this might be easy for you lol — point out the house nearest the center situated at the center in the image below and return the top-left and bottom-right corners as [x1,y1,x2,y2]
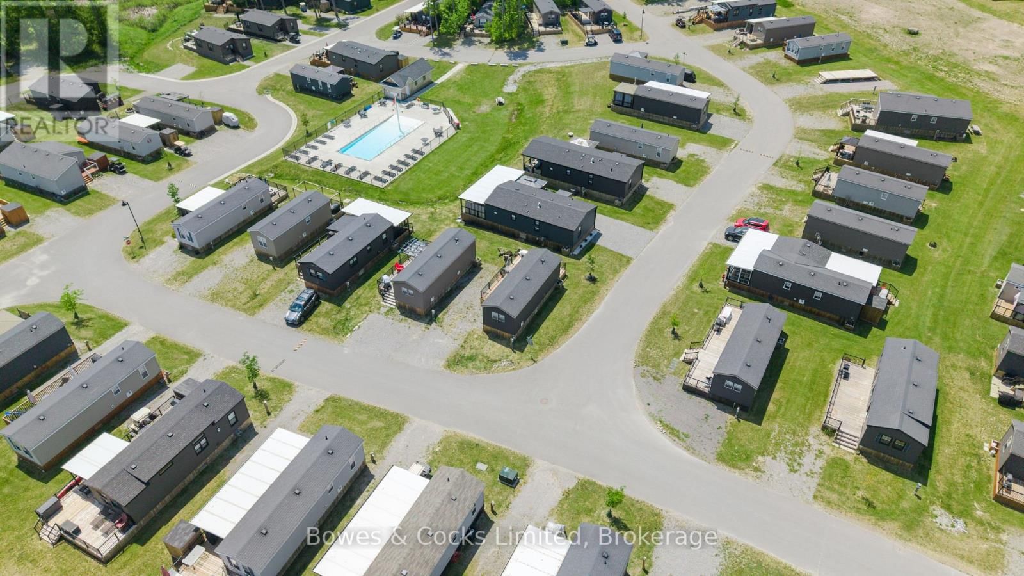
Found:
[481,249,562,339]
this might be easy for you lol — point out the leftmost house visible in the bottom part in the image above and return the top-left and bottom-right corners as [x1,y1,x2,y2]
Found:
[0,312,75,401]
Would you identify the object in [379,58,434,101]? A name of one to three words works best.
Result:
building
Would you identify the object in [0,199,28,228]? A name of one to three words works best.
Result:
shed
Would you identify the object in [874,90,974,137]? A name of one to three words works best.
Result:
house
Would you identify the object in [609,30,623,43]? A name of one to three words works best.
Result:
vehicle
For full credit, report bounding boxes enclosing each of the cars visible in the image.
[734,216,771,233]
[722,225,761,240]
[609,30,623,43]
[282,290,319,325]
